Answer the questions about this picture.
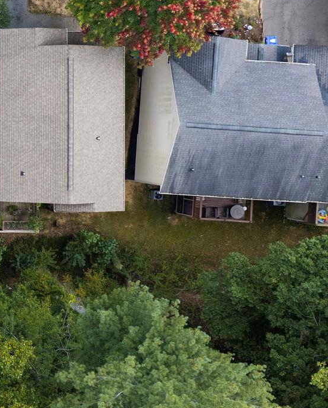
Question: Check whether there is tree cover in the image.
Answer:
Yes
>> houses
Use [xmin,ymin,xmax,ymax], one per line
[126,42,328,204]
[0,27,126,212]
